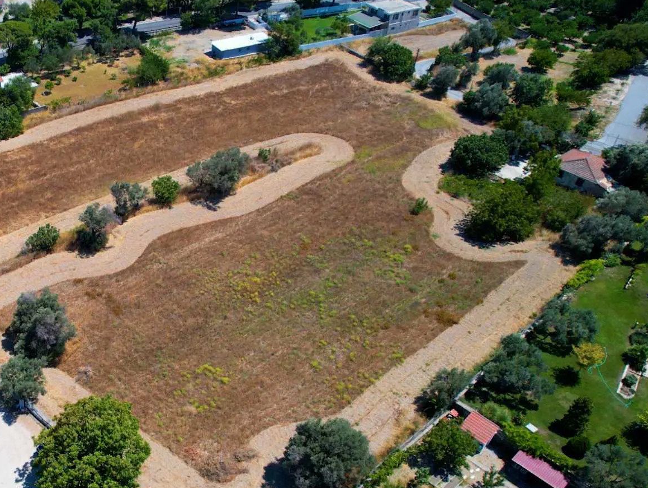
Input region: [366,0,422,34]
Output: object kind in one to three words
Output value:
house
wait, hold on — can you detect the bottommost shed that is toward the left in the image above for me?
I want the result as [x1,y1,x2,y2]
[210,33,273,62]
